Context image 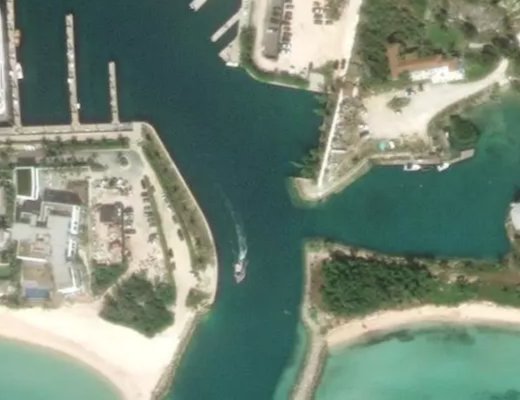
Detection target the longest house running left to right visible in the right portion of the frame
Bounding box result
[388,44,464,83]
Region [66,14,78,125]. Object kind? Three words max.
pier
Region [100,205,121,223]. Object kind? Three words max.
shed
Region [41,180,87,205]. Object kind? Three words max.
building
